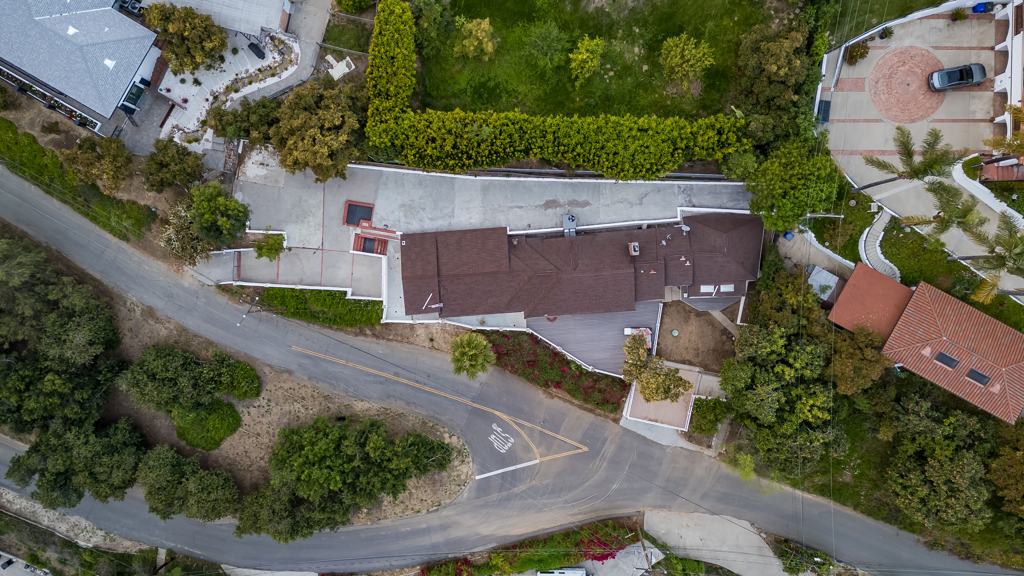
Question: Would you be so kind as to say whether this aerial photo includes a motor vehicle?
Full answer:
Yes, the frame does contain a motor vehicle.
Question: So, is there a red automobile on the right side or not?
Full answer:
No, there's no red automobile to be seen on the right side.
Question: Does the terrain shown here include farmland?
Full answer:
No, the scene doesn't show any farmland.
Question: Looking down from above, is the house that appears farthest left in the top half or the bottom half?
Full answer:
It is in the top half that the house that appears farthest left appears.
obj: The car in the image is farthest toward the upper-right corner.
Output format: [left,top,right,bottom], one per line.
[929,59,990,92]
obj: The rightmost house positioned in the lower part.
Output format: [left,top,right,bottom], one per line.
[876,280,1024,426]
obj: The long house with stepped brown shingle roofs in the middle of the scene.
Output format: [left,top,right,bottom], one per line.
[401,216,764,320]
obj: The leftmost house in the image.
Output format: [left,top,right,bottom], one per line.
[0,0,163,123]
